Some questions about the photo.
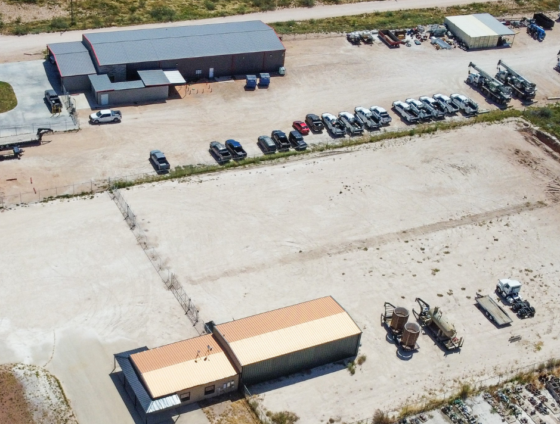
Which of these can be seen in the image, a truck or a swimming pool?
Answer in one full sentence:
Looking from above, you can make out a truck.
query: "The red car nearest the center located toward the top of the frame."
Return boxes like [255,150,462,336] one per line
[293,121,310,136]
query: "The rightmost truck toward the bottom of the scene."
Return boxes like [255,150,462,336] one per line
[501,285,537,319]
